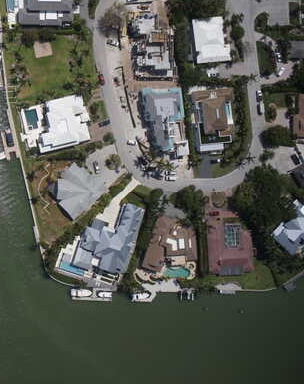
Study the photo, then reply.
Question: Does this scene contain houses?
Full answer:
Yes, there's a house here.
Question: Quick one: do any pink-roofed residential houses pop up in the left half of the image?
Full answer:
No, no pink-roofed residential house is visible in the left half of the image.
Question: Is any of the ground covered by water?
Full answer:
Yes, water shows up in the scene.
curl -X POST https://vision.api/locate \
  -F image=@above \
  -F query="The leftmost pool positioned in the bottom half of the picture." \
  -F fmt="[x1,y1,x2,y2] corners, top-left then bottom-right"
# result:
[58,263,84,276]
